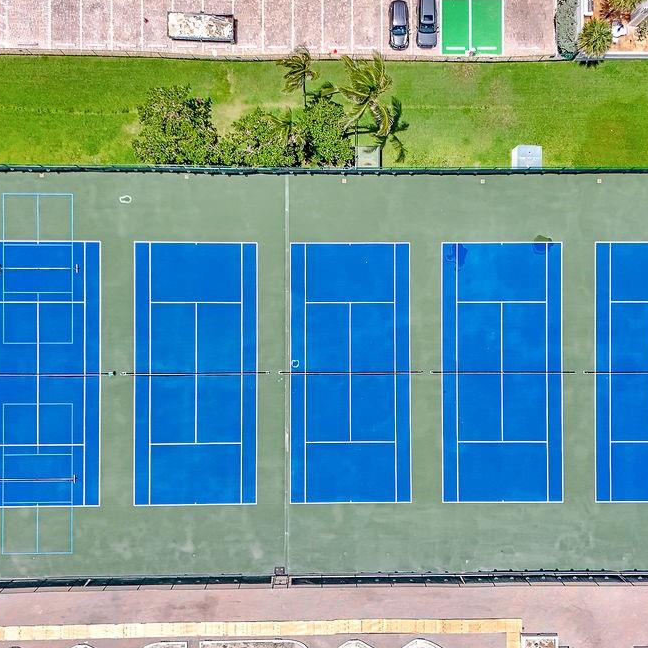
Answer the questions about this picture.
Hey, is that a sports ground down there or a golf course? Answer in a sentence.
This image shows a sports ground.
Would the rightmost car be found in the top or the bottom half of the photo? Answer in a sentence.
The rightmost car is in the top half of the image.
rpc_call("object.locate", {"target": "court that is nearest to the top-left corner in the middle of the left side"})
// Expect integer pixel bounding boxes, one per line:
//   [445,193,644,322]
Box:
[2,194,73,343]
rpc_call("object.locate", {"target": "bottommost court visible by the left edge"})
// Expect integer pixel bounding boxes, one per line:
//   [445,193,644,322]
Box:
[2,404,73,553]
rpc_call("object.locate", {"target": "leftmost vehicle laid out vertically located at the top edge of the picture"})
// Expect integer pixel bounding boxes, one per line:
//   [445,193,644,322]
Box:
[388,0,411,51]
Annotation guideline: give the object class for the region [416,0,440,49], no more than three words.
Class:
car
